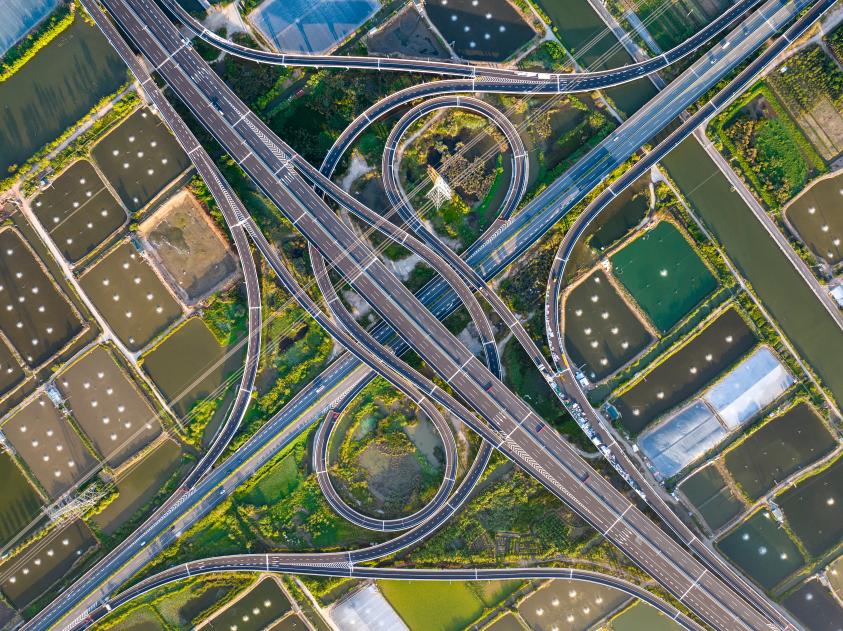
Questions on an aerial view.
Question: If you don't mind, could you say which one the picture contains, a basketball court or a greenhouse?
greenhouse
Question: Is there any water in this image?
Yes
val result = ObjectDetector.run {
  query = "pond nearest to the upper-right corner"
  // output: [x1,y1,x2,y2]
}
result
[783,171,843,266]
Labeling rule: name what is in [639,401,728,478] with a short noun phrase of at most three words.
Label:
greenhouse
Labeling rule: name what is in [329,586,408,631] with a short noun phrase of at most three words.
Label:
greenhouse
